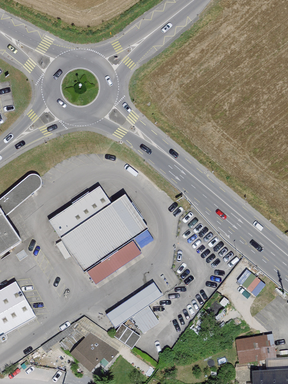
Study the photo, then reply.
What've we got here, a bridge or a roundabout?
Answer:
roundabout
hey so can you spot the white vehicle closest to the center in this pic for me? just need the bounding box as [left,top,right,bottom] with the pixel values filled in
[123,162,140,176]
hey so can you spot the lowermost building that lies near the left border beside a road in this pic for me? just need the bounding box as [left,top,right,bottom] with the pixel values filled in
[0,282,36,338]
